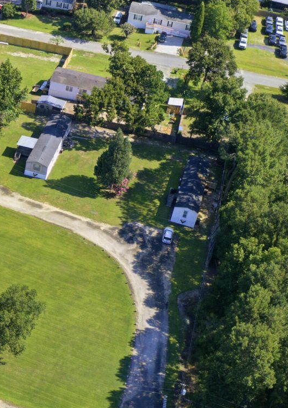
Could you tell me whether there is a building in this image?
Yes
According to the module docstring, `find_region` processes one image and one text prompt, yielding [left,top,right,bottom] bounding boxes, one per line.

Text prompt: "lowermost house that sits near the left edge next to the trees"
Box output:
[14,113,71,180]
